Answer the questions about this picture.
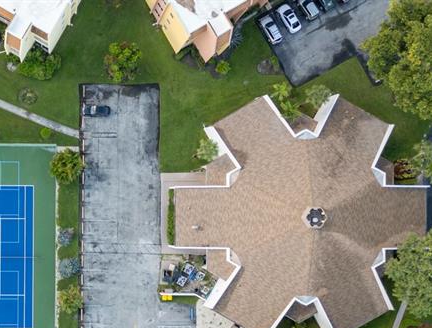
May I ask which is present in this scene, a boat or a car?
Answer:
car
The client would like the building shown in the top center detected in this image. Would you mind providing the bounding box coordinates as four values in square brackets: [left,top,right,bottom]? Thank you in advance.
[144,0,262,61]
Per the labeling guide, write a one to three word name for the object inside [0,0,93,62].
building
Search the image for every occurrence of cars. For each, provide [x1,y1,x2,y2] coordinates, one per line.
[295,0,319,23]
[83,104,112,117]
[317,0,334,11]
[260,16,283,46]
[277,5,299,34]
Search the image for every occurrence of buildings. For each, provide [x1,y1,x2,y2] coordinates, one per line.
[0,0,93,62]
[144,0,262,61]
[168,89,431,328]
